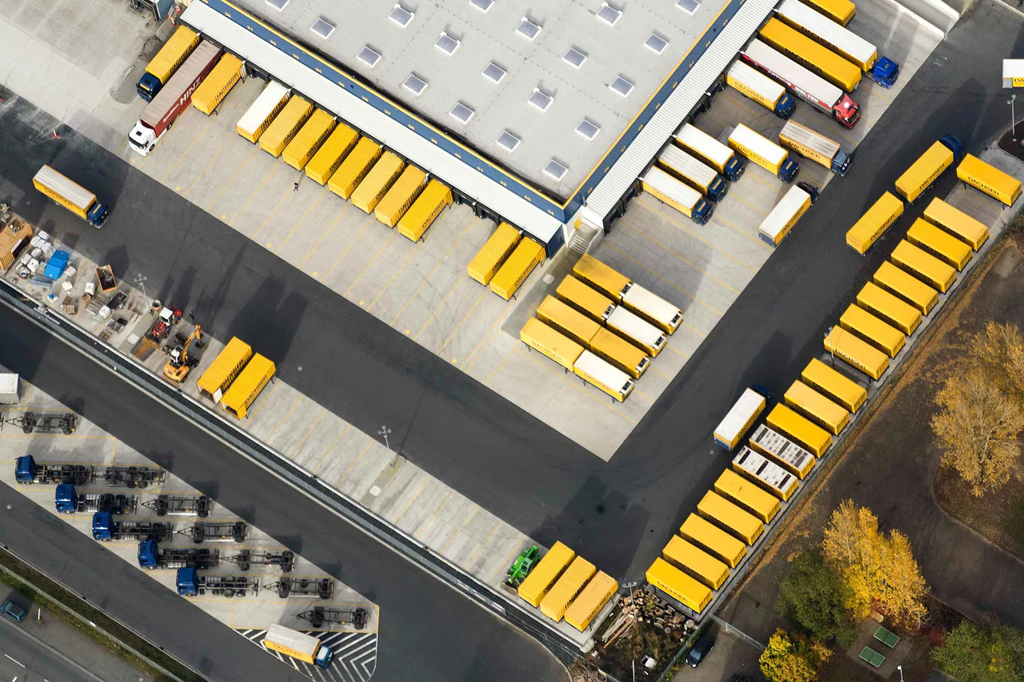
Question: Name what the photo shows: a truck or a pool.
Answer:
truck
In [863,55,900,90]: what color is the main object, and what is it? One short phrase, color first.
blue truck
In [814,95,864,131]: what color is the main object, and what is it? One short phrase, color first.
red truck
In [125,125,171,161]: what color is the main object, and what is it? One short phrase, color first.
white truck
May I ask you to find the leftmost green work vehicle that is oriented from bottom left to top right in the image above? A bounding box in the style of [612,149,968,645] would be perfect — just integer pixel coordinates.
[501,541,545,593]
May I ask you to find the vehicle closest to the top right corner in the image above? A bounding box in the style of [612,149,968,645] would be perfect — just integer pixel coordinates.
[1003,60,1024,92]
